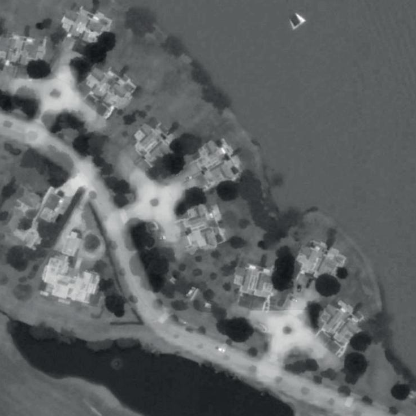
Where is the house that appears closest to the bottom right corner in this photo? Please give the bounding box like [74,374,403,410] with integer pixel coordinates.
[311,293,371,356]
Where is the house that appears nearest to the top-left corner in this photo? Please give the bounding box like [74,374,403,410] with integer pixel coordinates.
[0,24,43,78]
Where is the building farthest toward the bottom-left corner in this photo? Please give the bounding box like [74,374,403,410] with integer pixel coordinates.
[37,231,99,305]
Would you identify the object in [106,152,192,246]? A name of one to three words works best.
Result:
roundabout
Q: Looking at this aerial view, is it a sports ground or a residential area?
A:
residential area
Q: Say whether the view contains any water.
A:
Yes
